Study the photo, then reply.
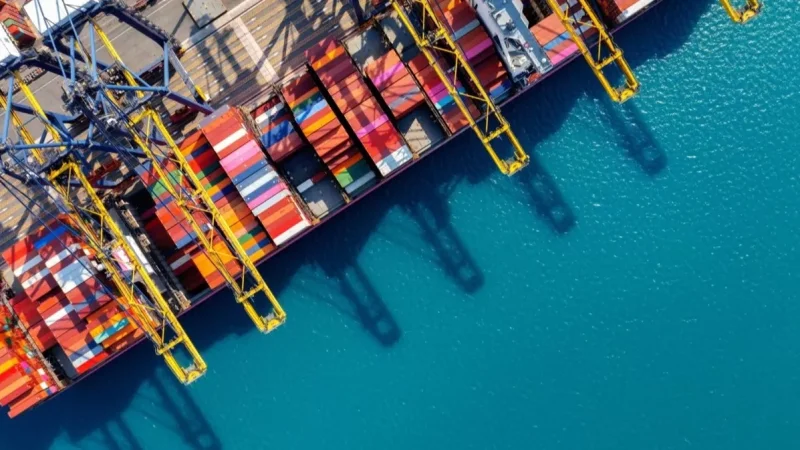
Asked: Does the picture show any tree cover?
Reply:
No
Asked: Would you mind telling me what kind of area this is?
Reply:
port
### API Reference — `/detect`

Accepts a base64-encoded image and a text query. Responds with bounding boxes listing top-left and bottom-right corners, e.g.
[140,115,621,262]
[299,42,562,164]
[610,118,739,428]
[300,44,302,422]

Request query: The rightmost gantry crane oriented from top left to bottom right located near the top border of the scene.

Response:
[545,0,643,106]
